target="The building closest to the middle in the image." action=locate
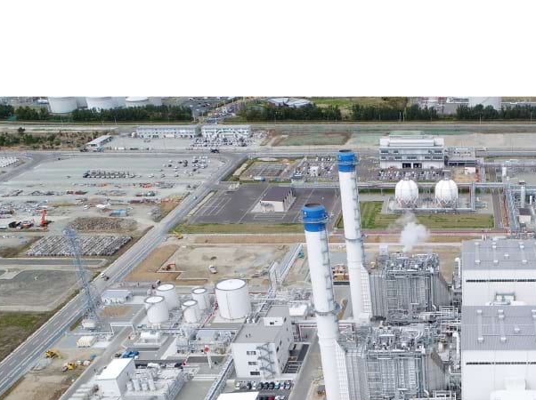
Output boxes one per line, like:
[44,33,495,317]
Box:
[260,191,297,211]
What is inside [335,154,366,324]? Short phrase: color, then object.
white chimney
